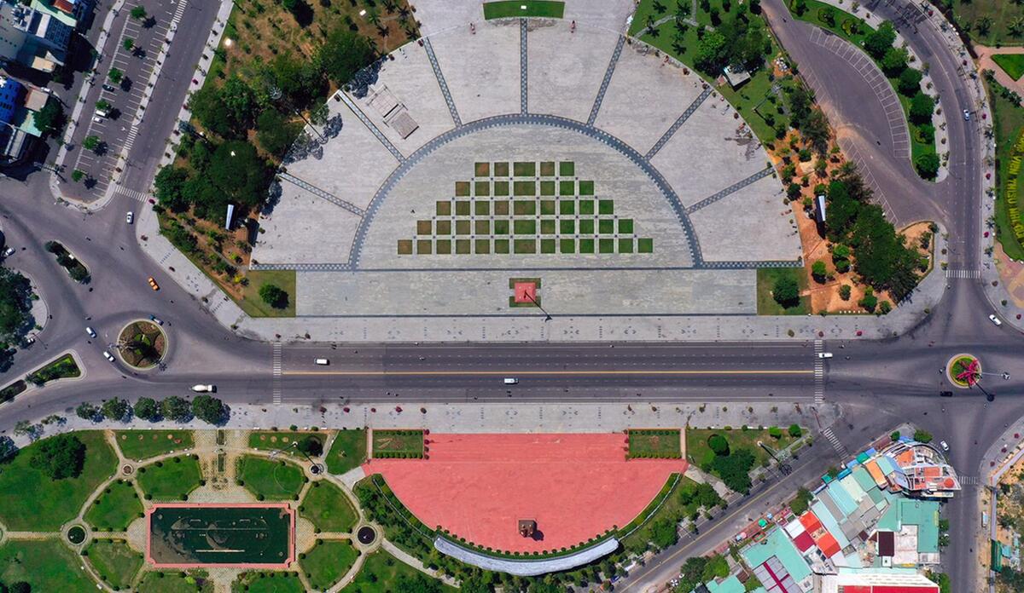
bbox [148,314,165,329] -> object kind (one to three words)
vehicle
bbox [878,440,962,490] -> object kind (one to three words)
building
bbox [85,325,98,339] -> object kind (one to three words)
vehicle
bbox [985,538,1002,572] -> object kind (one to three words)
shed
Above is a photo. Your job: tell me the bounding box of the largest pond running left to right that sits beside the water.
[146,504,295,569]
